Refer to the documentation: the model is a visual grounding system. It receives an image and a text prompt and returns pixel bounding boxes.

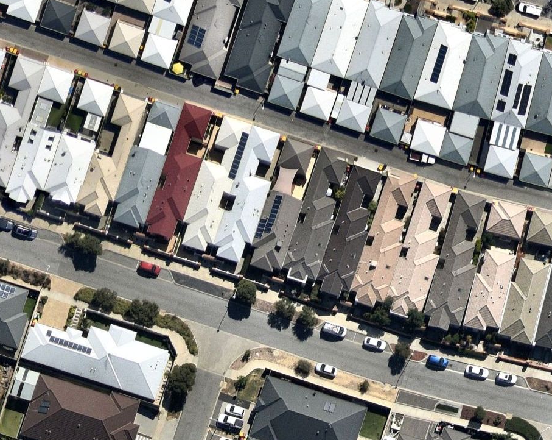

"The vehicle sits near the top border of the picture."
[517,1,542,16]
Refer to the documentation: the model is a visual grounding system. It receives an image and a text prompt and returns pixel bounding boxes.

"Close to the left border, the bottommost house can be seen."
[9,368,140,440]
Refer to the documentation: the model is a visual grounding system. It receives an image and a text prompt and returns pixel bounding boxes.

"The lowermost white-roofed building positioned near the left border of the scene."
[25,323,169,400]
